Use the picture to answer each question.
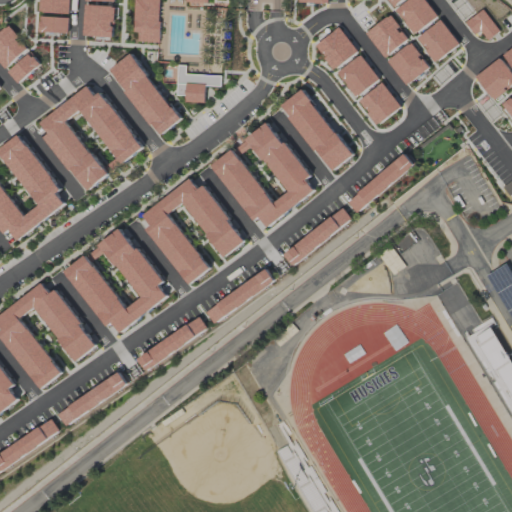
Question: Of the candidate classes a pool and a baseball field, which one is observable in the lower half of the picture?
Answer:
baseball field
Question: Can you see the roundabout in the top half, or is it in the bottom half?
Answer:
top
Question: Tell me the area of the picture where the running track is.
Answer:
bottom right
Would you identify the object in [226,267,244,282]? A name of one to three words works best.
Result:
vehicle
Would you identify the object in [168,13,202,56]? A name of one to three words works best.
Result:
swimming pool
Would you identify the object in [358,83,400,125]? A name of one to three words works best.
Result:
house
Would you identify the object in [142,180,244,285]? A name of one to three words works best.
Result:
building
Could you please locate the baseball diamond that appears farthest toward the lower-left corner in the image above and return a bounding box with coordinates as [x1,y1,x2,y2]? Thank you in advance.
[151,372,284,504]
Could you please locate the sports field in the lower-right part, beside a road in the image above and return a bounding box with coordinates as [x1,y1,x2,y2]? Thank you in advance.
[312,340,512,512]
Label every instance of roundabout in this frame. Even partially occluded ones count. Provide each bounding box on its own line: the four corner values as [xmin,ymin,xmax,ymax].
[247,18,316,86]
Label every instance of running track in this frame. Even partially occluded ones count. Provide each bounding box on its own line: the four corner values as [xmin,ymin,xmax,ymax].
[290,302,512,512]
